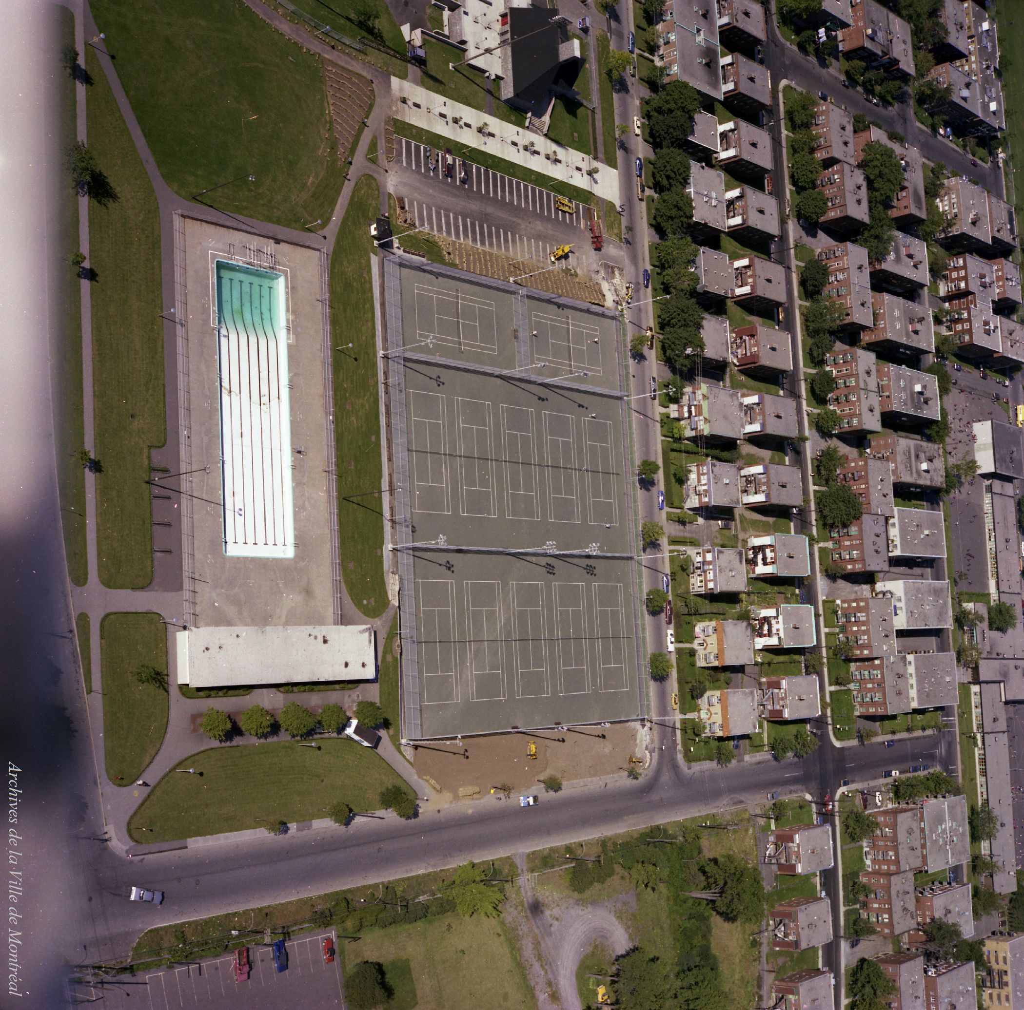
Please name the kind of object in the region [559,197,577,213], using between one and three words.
vehicle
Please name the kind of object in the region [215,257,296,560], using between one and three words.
swimming pool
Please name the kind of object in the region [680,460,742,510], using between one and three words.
house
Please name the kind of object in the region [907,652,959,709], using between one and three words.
building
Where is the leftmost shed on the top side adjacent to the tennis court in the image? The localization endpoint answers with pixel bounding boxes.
[365,216,394,251]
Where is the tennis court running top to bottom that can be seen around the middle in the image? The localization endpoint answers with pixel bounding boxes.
[385,259,641,739]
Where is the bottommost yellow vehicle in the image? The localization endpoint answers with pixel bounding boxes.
[596,984,610,1005]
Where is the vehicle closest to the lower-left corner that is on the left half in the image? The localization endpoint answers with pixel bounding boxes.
[131,888,165,905]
